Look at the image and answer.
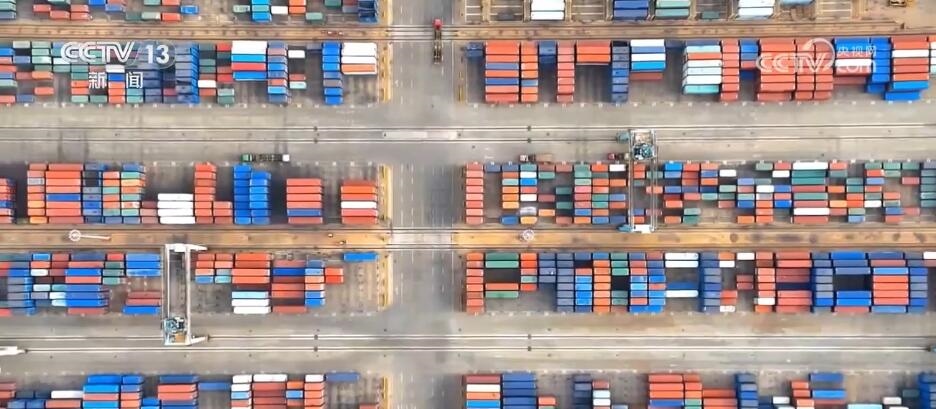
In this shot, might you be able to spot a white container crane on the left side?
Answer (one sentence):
Yes, a white container crane can be seen on the left side.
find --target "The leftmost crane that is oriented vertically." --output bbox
[159,242,210,347]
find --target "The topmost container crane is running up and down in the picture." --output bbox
[611,129,661,237]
